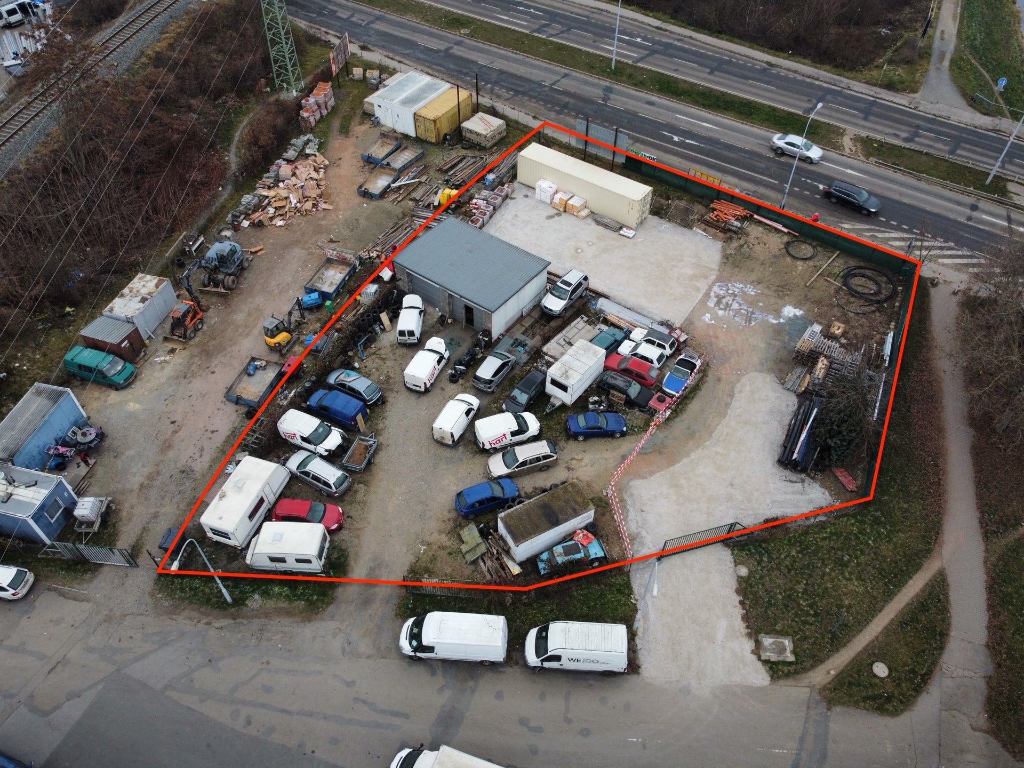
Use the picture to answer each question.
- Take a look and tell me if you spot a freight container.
Yes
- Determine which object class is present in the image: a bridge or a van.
van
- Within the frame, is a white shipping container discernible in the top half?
Yes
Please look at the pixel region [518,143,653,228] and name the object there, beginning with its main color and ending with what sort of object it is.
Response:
white shipping container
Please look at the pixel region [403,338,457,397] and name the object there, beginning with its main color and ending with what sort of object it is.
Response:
white van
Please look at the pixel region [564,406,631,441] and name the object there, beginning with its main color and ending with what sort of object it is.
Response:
blue car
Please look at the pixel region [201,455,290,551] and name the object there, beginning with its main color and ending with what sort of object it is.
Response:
white camper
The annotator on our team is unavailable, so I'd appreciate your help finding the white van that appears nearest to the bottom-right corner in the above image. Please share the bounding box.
[521,620,630,678]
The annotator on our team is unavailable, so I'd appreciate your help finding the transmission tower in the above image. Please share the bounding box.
[257,0,305,97]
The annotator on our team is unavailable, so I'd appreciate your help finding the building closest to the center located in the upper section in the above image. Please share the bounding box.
[384,209,555,340]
